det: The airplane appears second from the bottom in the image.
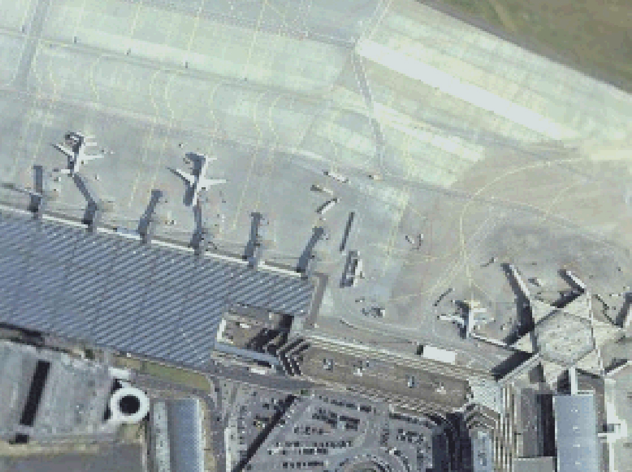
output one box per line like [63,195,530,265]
[178,152,227,208]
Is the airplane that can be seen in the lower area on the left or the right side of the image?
right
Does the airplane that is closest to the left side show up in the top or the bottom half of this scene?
top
